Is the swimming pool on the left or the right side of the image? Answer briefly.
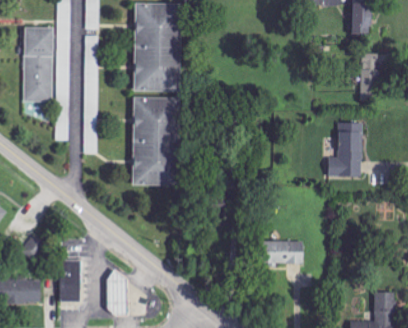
left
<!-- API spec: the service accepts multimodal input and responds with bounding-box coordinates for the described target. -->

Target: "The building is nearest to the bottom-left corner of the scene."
[0,279,42,306]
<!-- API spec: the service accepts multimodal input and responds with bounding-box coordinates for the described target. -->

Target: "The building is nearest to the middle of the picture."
[133,96,180,186]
